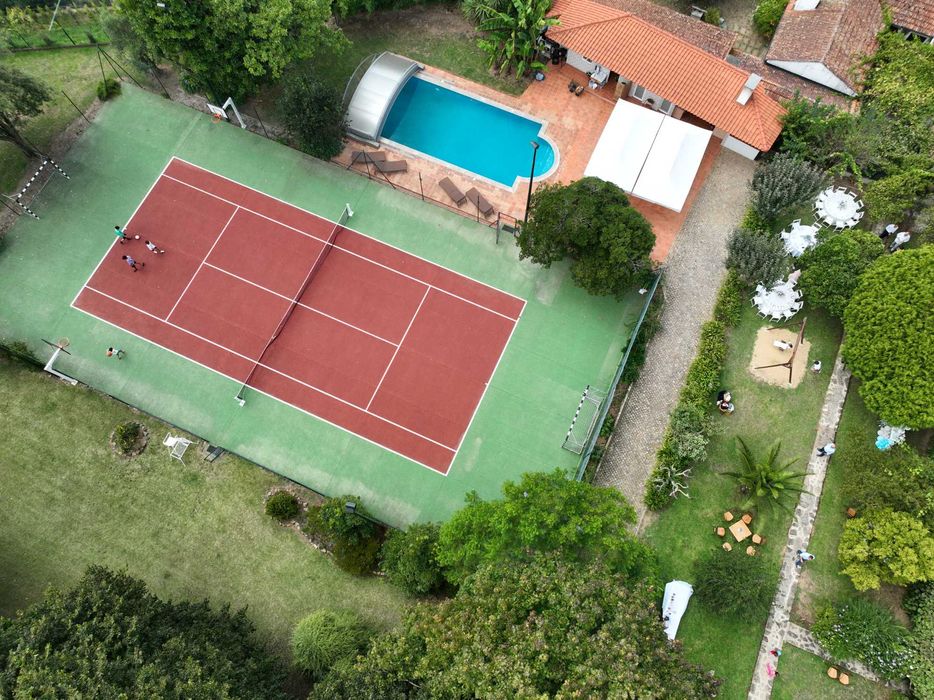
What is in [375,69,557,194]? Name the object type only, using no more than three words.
swimming pool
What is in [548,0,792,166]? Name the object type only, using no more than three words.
building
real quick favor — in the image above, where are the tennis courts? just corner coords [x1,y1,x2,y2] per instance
[0,80,649,562]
